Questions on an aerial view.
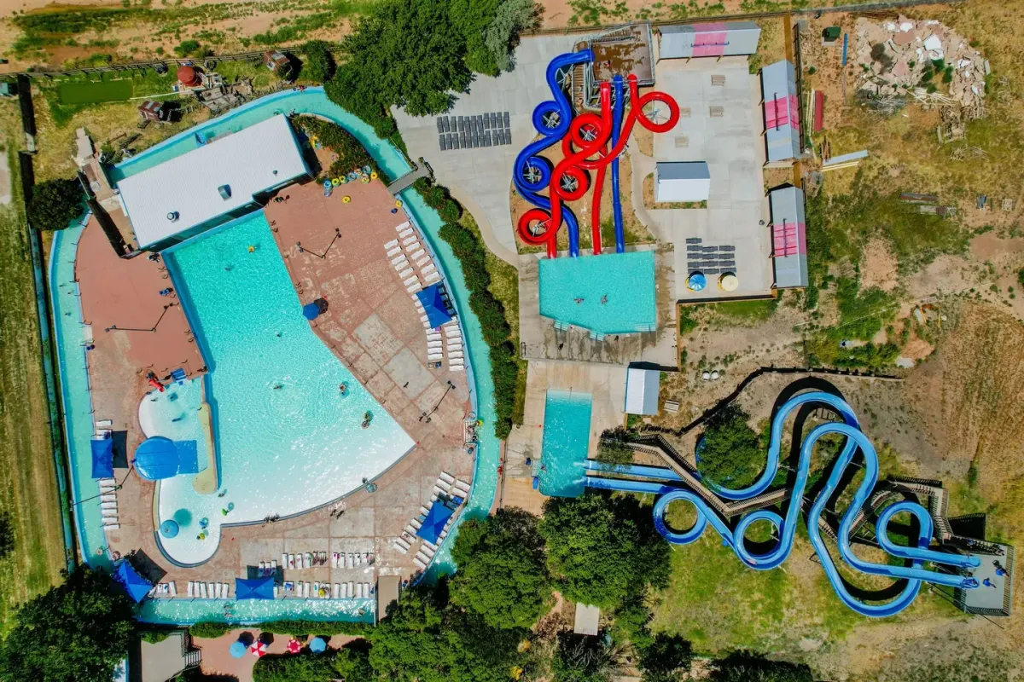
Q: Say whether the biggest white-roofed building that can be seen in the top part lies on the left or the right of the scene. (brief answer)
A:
left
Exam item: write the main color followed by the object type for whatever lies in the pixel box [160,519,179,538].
blue fountain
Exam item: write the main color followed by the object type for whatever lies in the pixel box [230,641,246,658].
blue umbrella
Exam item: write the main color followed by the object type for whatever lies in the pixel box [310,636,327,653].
blue umbrella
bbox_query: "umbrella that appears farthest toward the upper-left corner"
[302,301,321,319]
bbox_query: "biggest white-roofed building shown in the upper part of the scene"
[116,113,316,252]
